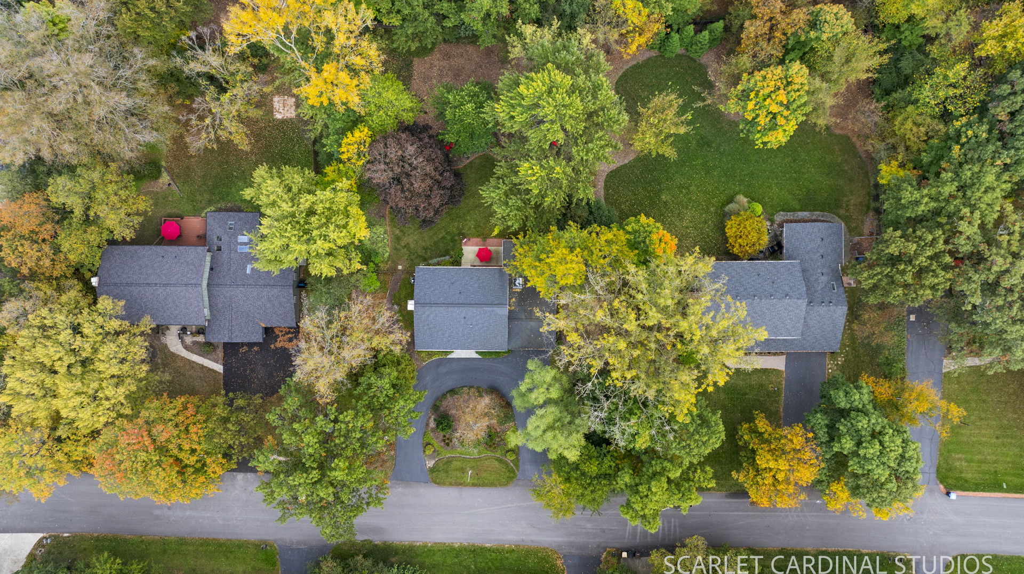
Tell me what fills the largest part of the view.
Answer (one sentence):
The largest share of the image is taken up by trees.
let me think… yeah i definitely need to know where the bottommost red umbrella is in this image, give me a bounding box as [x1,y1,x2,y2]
[476,247,492,262]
